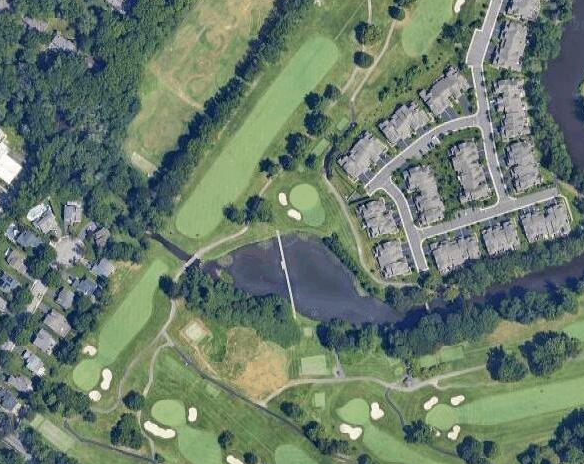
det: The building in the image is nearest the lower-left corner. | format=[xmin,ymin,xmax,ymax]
[0,389,20,414]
